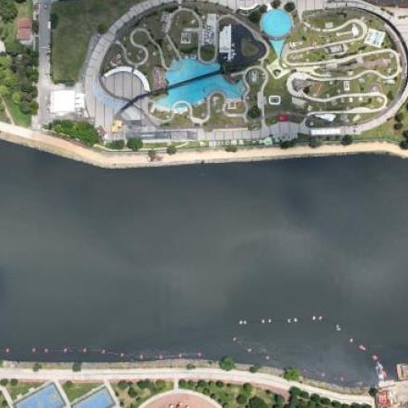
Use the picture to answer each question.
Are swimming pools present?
Yes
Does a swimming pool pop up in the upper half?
Yes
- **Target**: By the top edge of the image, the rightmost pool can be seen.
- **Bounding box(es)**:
[260,5,293,57]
